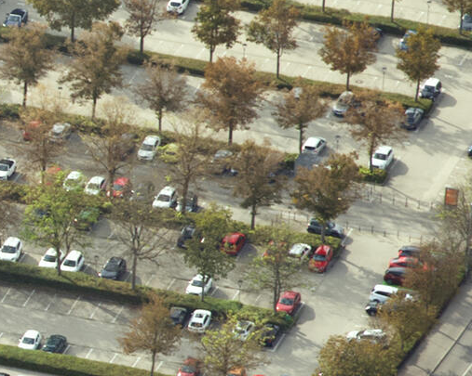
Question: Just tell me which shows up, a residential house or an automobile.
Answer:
automobile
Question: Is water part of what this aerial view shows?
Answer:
No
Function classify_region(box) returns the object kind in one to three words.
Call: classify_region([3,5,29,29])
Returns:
car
